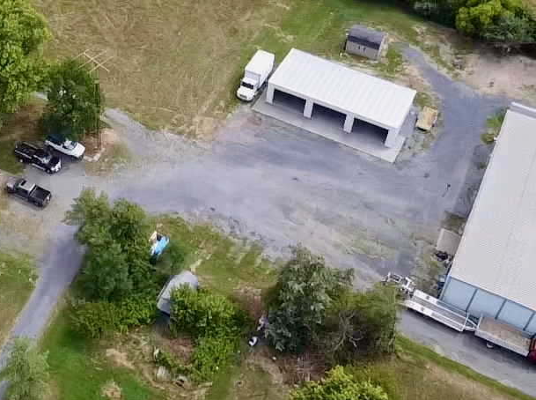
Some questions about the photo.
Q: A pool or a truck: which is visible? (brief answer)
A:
truck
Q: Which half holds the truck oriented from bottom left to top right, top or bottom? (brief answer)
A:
top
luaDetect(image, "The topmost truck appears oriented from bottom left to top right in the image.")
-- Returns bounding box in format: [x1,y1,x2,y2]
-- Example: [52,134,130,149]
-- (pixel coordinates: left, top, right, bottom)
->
[240,48,282,101]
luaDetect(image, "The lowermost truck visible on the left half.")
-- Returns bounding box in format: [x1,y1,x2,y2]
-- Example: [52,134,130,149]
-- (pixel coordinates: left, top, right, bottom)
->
[4,178,52,205]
